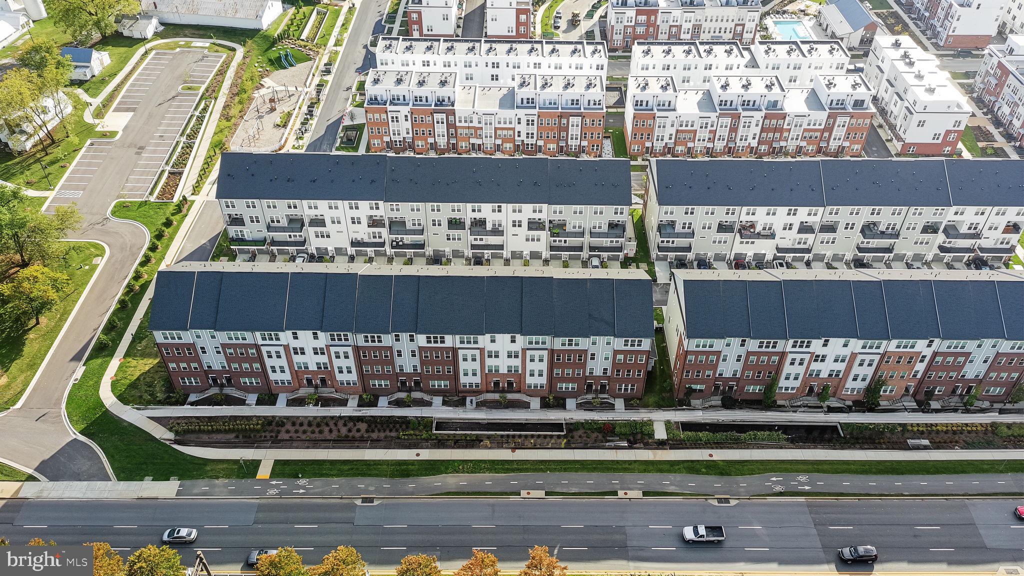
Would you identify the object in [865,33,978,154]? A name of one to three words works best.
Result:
building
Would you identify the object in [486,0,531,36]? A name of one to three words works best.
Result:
house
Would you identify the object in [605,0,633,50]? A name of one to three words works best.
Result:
house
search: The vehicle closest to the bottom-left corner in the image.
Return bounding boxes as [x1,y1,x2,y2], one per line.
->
[160,528,198,545]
